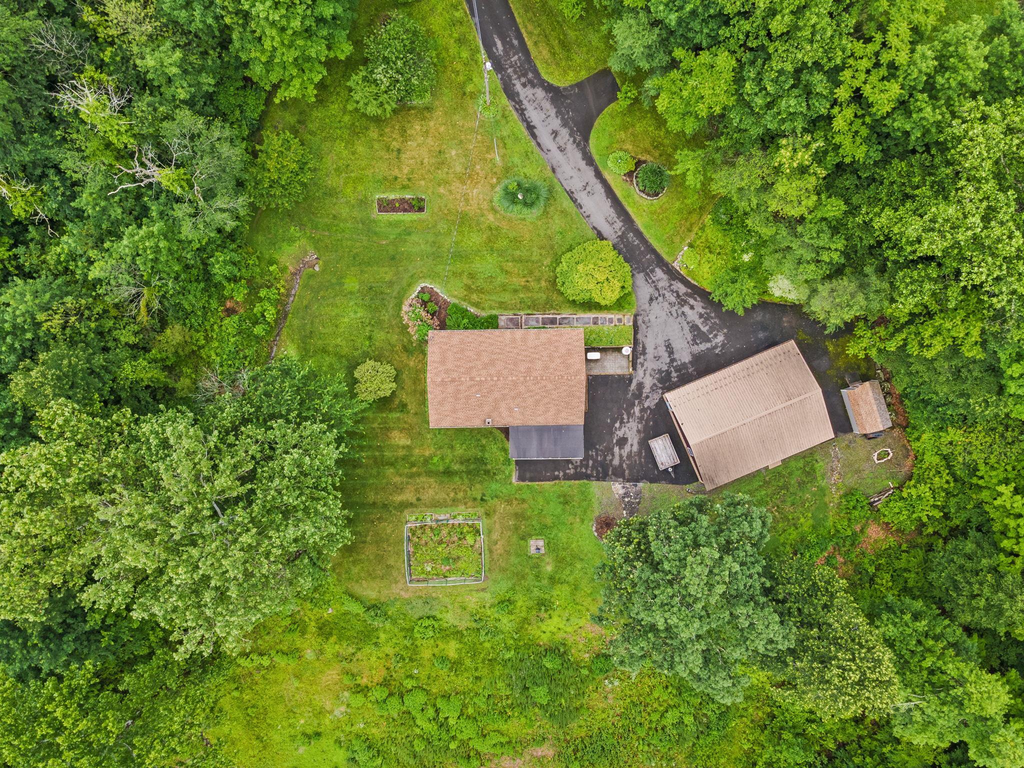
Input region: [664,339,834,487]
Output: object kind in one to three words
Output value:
building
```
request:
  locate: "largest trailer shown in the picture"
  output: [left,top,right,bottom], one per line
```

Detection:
[648,433,680,480]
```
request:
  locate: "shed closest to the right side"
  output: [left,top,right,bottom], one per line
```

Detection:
[840,380,892,436]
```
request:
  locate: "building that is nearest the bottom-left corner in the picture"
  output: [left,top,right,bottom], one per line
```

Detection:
[427,327,589,460]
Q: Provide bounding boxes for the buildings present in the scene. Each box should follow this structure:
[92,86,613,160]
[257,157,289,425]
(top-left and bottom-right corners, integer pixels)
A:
[664,339,834,487]
[427,327,589,460]
[840,380,892,436]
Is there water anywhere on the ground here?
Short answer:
No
